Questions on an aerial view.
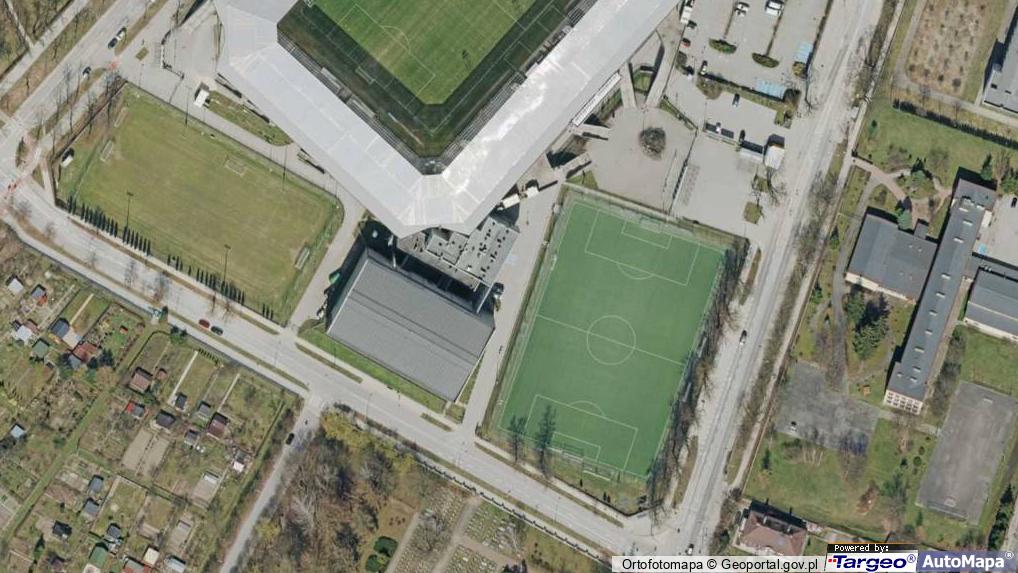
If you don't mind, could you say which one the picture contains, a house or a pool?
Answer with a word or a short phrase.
house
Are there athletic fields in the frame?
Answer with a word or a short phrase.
Yes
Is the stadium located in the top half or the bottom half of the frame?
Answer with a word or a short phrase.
top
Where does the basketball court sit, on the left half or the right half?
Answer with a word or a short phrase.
right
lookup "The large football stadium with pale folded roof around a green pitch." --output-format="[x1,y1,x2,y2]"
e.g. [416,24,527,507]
[215,0,691,241]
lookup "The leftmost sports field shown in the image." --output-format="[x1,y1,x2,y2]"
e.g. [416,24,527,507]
[72,99,323,318]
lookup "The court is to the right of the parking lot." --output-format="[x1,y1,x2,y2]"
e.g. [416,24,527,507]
[917,381,1018,525]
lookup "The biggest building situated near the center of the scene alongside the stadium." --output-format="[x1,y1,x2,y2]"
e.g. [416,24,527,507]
[323,248,494,404]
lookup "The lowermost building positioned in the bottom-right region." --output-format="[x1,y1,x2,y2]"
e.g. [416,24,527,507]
[730,512,807,564]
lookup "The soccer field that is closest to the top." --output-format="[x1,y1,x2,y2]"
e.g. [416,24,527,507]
[294,0,564,143]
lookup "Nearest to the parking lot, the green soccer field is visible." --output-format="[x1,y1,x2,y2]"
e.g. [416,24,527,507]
[494,199,727,480]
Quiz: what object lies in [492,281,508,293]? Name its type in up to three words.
vehicle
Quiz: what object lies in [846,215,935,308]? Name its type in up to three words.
building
